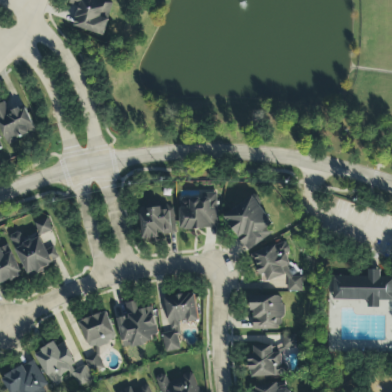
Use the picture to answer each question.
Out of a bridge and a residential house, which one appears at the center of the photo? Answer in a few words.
residential house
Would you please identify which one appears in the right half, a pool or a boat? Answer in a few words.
pool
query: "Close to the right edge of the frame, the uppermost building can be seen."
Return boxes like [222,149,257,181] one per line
[330,268,392,306]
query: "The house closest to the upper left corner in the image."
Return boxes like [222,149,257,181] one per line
[70,0,117,36]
